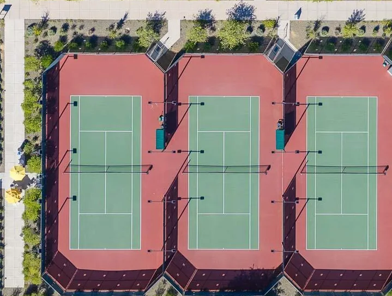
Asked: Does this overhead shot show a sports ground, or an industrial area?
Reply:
sports ground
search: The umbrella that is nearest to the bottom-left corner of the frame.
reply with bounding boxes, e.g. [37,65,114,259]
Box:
[7,186,21,202]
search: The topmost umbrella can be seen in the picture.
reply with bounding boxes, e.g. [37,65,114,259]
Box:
[10,165,28,182]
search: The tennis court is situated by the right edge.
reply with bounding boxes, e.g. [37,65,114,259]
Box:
[283,54,392,291]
